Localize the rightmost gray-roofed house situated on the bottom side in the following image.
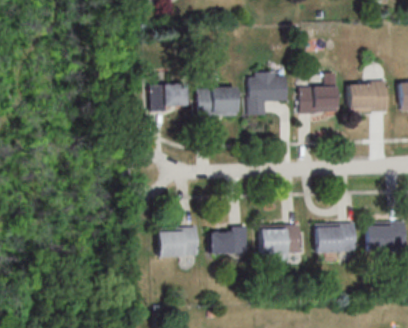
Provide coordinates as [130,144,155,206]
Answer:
[366,221,407,252]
